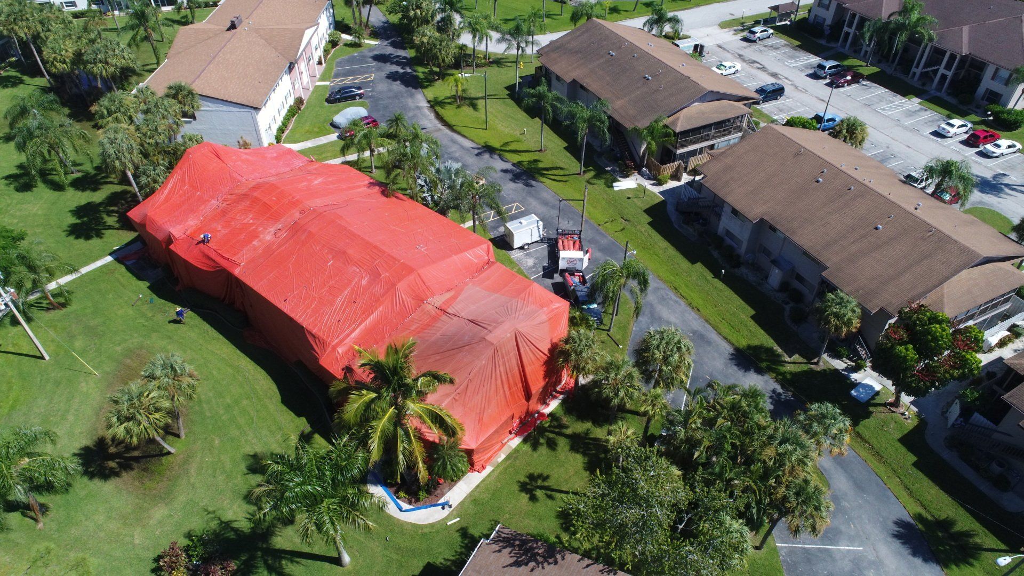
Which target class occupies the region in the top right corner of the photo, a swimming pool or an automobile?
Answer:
automobile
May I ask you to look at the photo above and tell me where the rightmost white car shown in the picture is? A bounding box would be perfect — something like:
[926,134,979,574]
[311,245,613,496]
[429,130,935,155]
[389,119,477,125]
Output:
[980,140,1022,161]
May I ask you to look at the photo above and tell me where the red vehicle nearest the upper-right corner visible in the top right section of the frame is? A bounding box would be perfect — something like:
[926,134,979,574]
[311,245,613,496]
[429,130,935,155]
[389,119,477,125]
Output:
[964,130,1000,149]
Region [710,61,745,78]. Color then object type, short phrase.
white car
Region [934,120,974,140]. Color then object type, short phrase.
white car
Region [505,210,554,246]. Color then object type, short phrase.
white trailer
